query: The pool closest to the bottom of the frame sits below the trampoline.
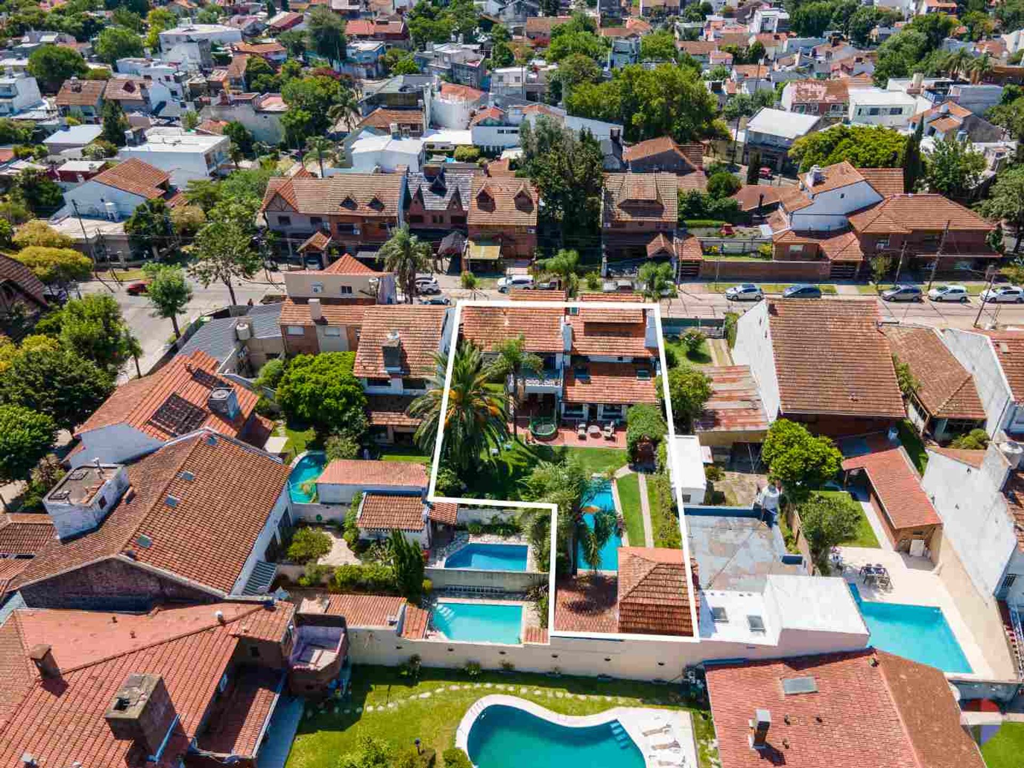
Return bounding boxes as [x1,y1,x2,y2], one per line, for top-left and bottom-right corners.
[467,705,646,768]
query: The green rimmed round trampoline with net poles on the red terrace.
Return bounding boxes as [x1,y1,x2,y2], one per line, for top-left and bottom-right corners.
[527,408,557,445]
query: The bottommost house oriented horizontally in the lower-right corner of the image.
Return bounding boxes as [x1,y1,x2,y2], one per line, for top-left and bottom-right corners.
[701,647,988,768]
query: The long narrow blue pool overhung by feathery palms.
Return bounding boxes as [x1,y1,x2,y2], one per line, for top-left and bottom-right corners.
[581,479,622,565]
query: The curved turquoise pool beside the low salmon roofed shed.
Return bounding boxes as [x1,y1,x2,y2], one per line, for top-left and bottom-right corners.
[289,453,326,502]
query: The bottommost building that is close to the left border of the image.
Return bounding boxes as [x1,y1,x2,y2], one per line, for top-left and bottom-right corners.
[0,601,296,768]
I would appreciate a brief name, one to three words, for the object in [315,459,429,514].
shed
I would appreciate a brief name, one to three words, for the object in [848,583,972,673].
swimming pool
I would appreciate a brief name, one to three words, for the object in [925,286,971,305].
car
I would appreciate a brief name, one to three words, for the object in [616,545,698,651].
building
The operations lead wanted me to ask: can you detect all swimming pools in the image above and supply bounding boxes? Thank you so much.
[289,453,326,502]
[467,705,646,768]
[581,479,622,565]
[848,583,972,673]
[447,543,532,567]
[430,603,524,642]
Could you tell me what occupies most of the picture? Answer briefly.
buildings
